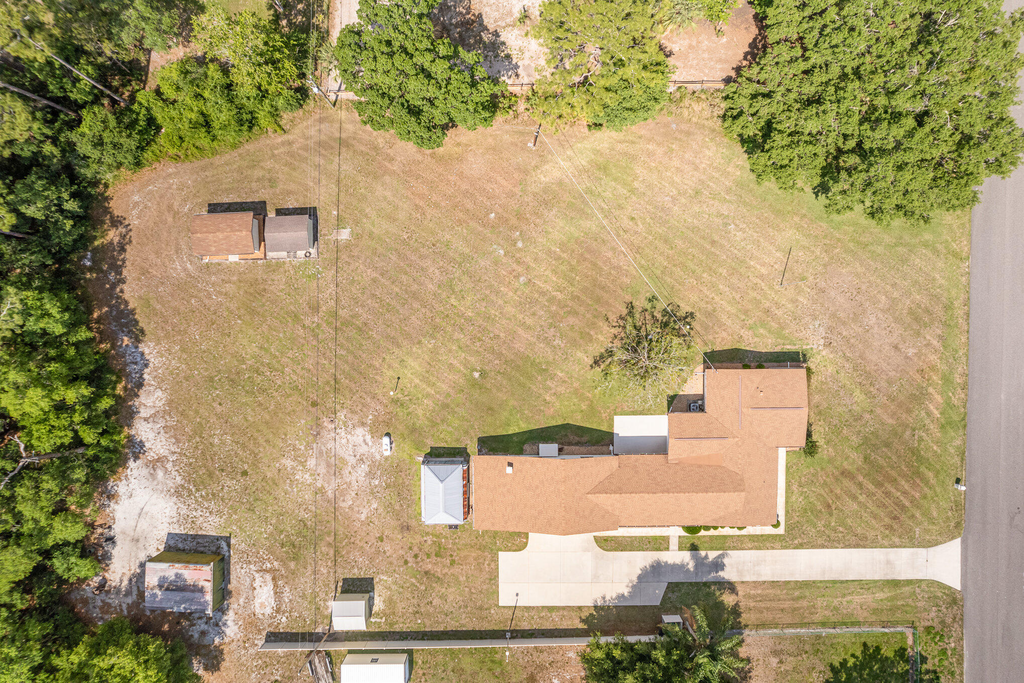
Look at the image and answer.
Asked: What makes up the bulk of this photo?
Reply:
grass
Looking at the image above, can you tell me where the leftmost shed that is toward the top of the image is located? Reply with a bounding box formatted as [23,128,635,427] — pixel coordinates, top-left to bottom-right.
[191,212,260,257]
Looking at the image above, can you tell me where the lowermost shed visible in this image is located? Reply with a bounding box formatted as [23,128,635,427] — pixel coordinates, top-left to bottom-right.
[341,654,409,683]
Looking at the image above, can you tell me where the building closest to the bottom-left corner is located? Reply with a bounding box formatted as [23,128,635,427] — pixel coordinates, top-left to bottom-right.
[145,551,226,617]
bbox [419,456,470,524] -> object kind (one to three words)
shed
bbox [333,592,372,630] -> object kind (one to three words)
shed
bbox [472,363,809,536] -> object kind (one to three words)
house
